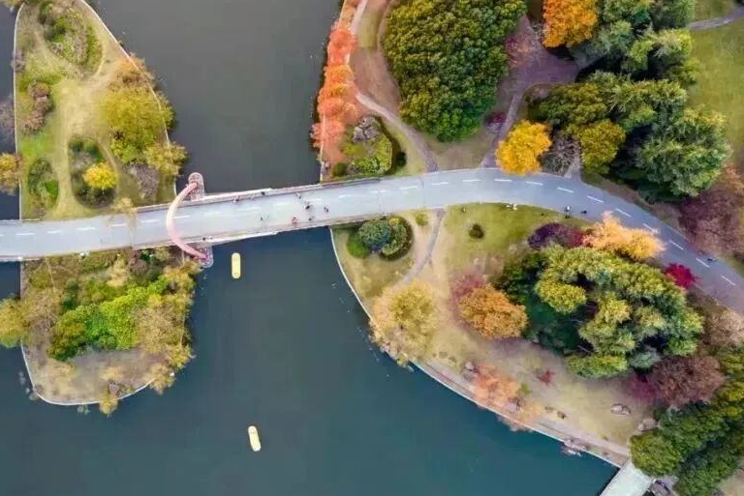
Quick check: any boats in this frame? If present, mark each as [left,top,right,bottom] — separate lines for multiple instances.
[231,252,240,279]
[247,426,260,451]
